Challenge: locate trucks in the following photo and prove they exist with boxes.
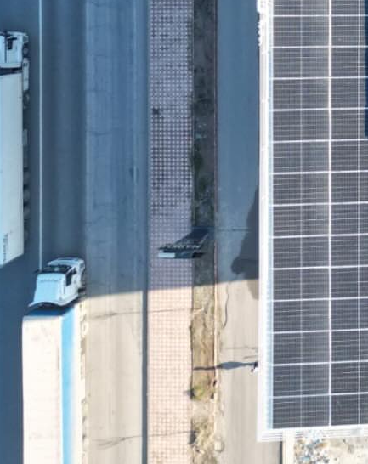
[0,31,30,265]
[24,258,86,464]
